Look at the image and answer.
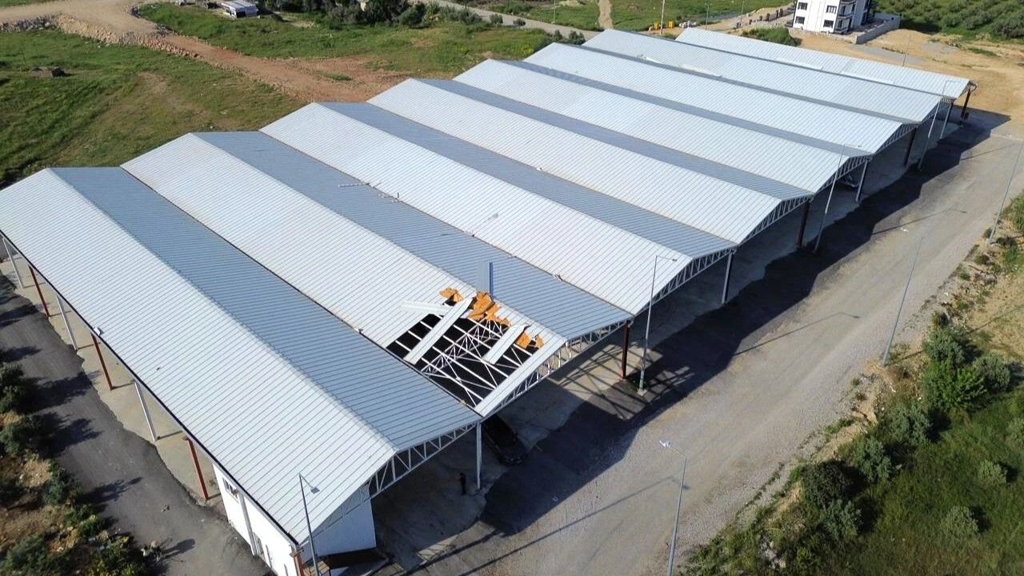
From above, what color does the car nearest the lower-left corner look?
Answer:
black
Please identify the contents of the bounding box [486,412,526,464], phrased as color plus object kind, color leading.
black car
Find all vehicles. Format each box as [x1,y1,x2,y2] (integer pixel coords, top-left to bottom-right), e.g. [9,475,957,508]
[486,412,526,464]
[828,174,846,187]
